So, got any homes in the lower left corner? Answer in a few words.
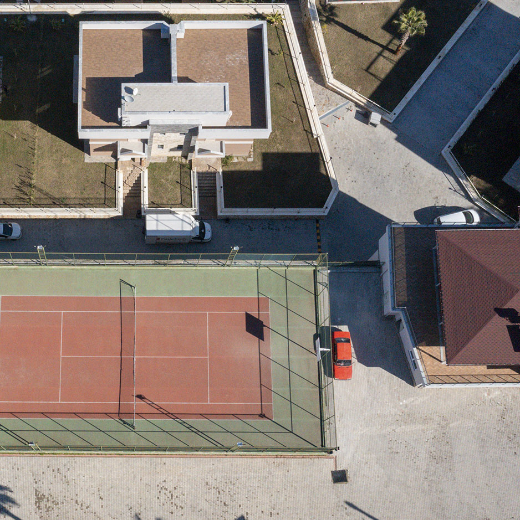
No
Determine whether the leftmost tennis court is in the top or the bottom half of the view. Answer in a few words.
bottom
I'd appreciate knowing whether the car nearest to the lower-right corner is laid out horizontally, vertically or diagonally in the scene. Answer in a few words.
vertically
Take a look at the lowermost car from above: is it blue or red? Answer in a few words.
red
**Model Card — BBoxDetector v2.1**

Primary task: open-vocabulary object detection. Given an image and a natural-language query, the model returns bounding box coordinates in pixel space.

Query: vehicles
[144,215,208,245]
[334,329,358,380]
[435,208,481,223]
[0,218,22,241]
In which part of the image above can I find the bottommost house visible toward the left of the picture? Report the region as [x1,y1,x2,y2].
[75,17,271,164]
